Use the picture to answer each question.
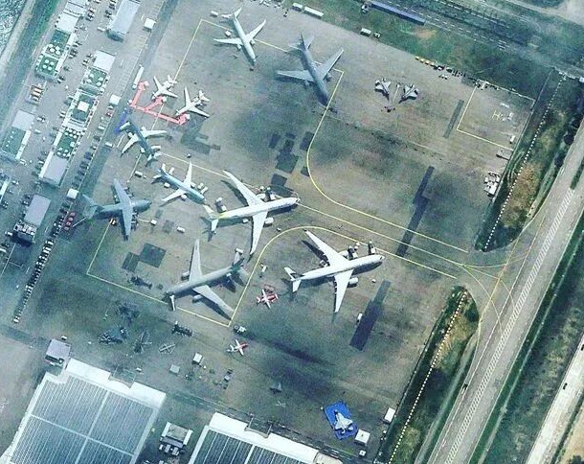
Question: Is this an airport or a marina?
airport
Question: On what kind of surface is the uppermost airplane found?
apron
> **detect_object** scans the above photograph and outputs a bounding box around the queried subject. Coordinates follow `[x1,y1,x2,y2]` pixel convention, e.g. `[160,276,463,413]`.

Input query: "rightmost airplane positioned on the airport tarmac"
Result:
[399,83,417,103]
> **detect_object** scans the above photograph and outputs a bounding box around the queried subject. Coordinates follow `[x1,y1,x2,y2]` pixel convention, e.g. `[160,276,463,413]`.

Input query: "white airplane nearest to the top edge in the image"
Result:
[218,9,270,63]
